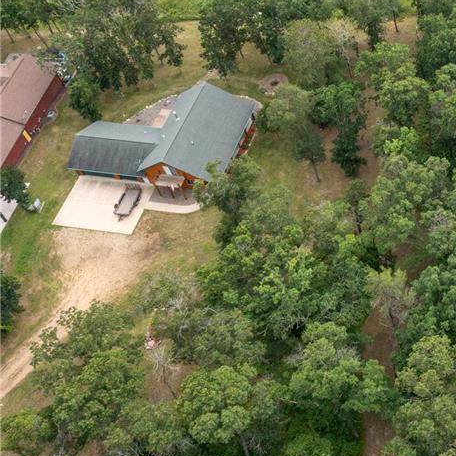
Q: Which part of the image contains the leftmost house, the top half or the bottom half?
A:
top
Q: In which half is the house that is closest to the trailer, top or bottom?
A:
top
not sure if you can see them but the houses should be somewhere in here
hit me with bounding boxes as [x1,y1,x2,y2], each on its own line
[0,58,57,173]
[64,83,258,199]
